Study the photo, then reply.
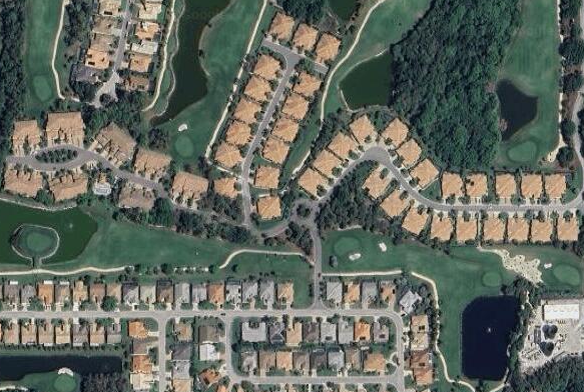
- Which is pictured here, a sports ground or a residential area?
residential area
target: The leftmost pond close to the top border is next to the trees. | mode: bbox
[153,0,232,123]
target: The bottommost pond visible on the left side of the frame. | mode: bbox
[0,355,125,384]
